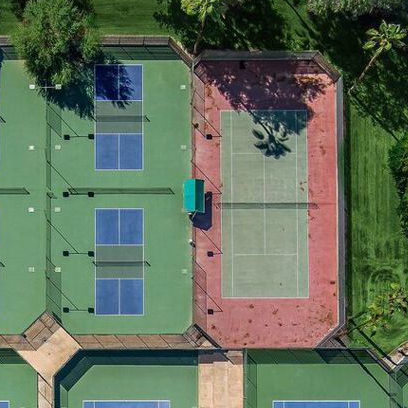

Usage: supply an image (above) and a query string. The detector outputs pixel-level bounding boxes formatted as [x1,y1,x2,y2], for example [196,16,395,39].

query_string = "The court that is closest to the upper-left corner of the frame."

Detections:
[92,64,146,170]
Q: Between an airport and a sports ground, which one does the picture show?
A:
sports ground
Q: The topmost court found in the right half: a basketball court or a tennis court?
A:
tennis court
